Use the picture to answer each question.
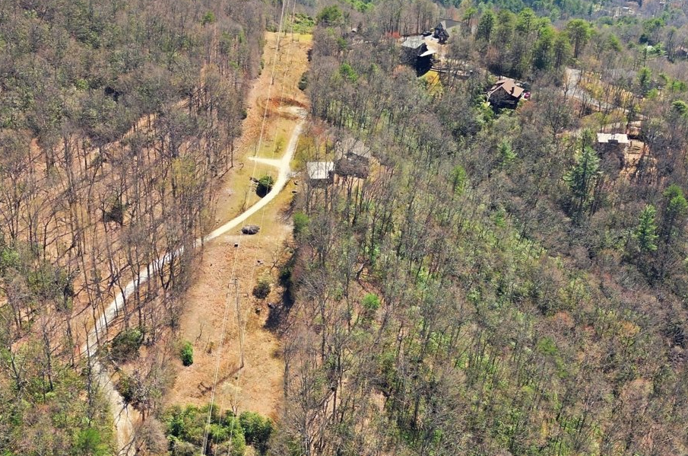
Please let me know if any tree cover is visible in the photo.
Yes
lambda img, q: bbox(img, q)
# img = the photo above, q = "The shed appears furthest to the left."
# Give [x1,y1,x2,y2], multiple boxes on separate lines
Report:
[307,164,336,186]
